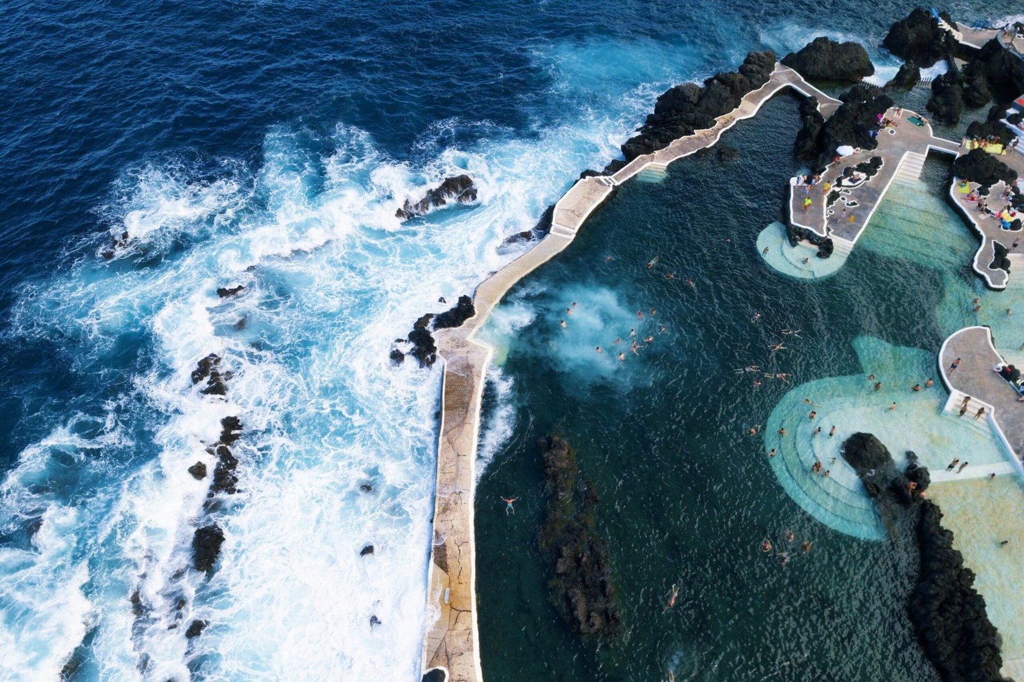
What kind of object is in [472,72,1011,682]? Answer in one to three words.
swimming pool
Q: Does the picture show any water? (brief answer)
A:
Yes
